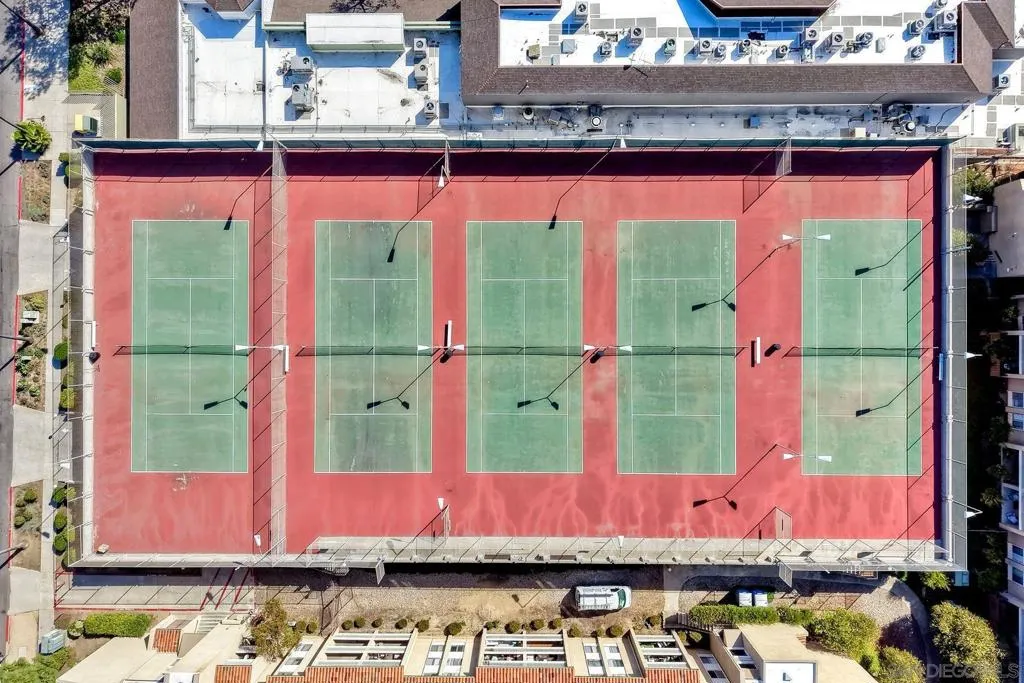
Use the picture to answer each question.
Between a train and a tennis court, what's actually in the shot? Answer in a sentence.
The one in the frame is a tennis court.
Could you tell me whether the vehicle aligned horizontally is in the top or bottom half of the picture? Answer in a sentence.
The bottom half of the photo is where the vehicle aligned horizontally is.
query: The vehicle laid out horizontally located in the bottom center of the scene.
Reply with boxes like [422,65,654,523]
[574,583,630,610]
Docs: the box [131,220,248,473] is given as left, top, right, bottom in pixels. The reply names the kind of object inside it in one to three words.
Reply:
tennis court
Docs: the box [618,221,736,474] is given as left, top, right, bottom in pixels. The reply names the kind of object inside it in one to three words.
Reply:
tennis court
